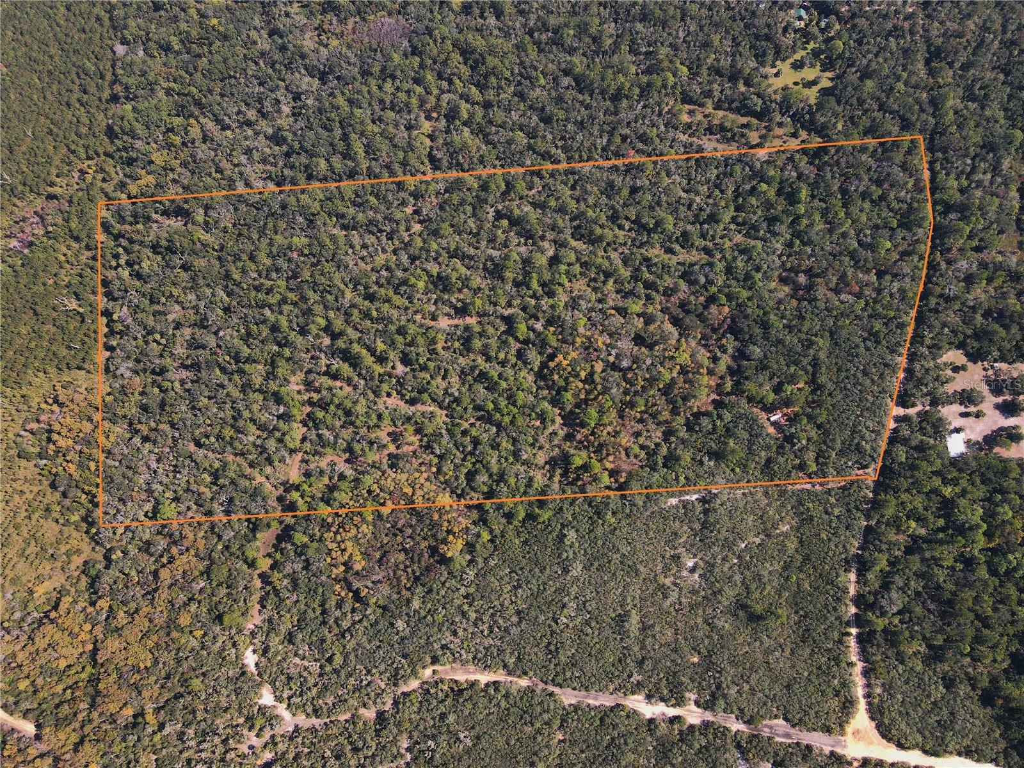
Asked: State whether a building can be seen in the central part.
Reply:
No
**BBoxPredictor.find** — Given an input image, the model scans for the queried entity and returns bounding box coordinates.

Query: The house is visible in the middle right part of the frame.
[940,432,968,457]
